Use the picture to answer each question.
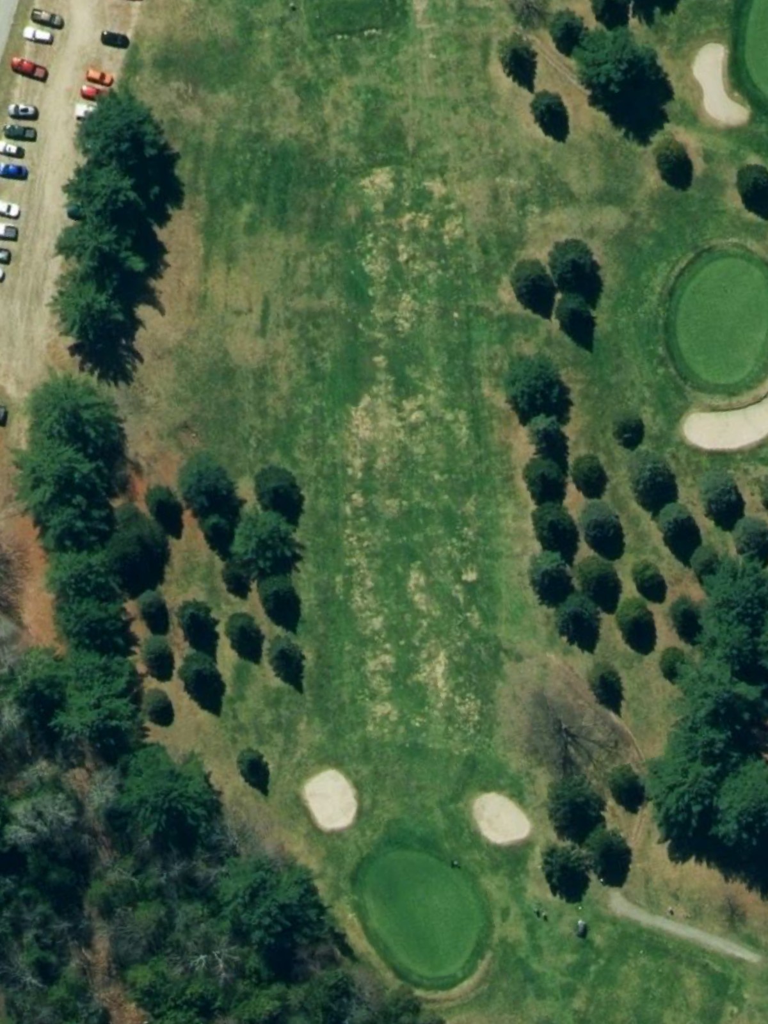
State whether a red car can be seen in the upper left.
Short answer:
Yes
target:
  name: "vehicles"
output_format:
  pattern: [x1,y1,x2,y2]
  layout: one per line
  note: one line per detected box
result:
[0,250,11,263]
[10,57,50,79]
[0,162,28,178]
[0,202,21,217]
[23,26,54,43]
[79,83,107,99]
[0,224,19,238]
[3,124,38,140]
[8,103,39,119]
[74,102,95,118]
[63,204,91,217]
[29,7,66,28]
[0,142,25,158]
[86,68,114,85]
[101,30,131,46]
